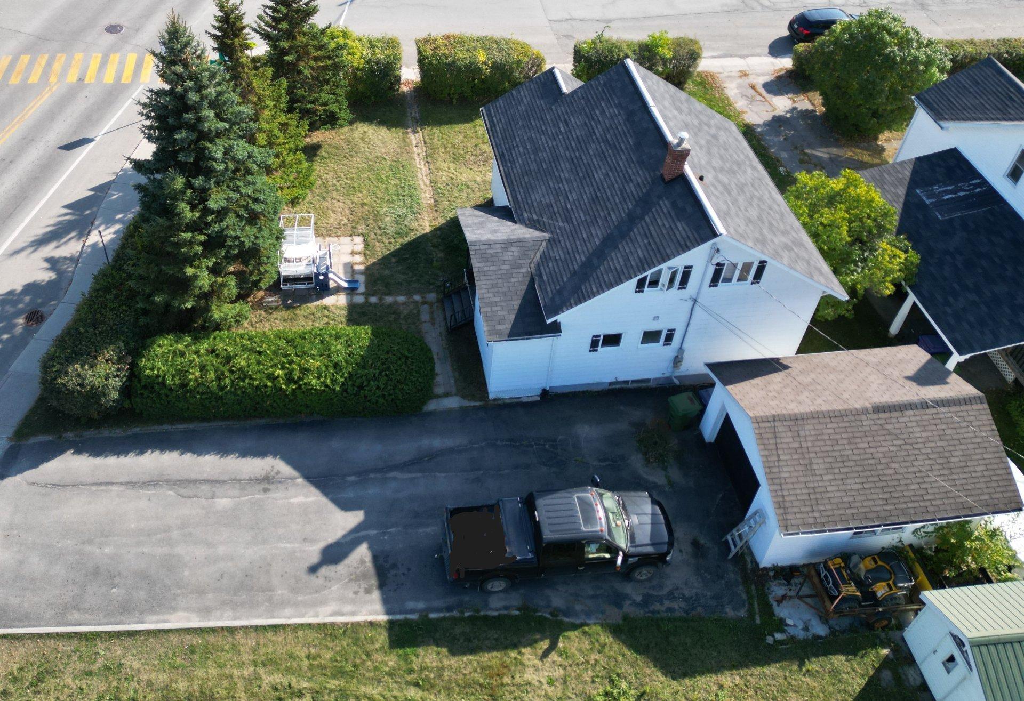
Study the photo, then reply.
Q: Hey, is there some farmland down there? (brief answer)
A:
No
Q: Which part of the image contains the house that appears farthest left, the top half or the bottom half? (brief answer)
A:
top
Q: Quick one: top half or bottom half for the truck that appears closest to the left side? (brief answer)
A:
bottom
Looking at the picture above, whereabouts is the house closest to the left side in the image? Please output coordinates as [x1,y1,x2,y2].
[438,59,850,400]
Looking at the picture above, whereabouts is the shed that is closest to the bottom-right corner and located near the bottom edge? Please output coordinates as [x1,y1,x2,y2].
[904,576,1024,701]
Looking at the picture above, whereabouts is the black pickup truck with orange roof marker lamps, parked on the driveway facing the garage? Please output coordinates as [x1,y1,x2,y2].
[433,481,676,594]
